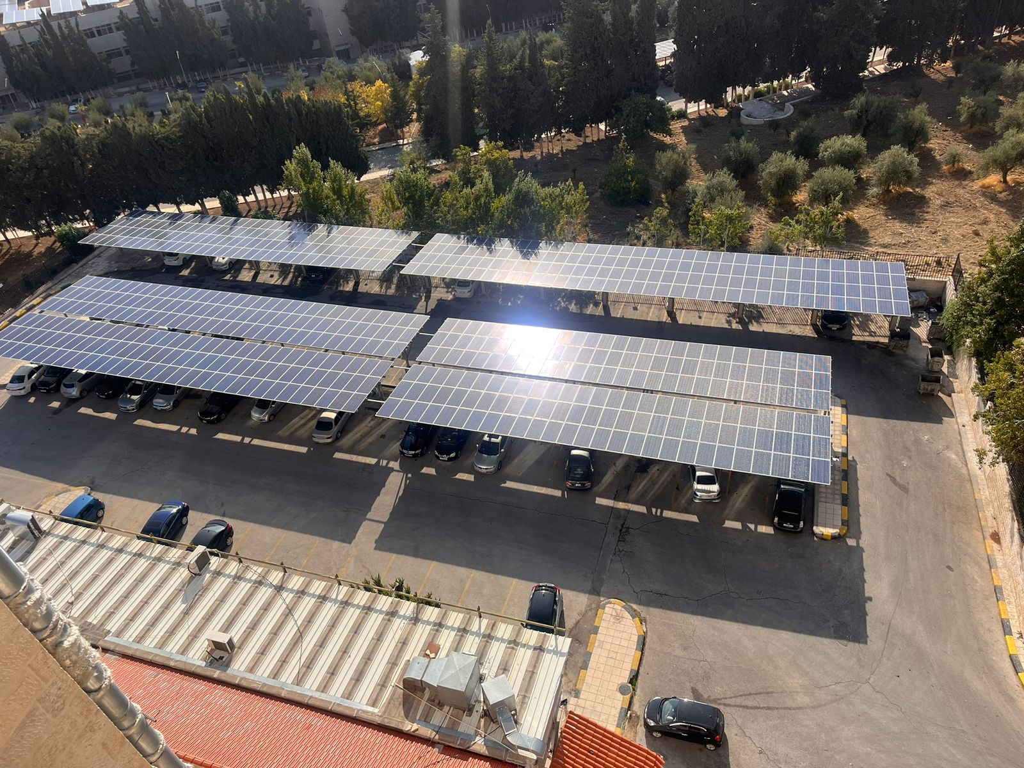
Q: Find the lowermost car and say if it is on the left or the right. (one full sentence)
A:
The lowermost car is on the right side of the image.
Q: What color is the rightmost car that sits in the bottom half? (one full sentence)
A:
The color of the rightmost car that sits in the bottom half is black.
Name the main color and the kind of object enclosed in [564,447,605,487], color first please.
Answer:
black car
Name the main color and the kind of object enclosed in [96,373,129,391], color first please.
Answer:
black car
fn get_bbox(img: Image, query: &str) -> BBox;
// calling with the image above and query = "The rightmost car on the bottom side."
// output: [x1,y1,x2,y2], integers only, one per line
[772,478,812,528]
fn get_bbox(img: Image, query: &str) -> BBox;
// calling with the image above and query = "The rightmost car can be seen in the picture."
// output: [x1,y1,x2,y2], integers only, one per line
[821,309,848,327]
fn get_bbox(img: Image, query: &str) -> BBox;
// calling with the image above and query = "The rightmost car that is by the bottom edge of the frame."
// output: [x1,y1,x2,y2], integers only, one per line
[643,686,729,747]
